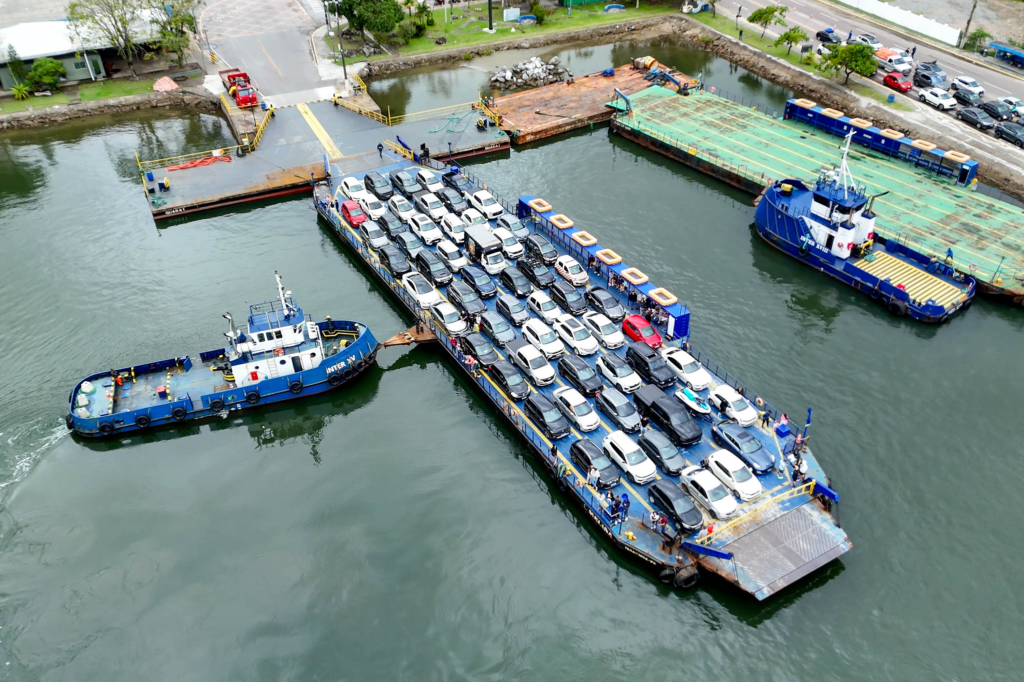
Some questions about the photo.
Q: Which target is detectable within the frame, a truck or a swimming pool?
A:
truck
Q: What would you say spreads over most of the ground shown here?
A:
water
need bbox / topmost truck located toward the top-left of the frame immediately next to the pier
[225,68,255,99]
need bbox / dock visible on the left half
[132,90,512,220]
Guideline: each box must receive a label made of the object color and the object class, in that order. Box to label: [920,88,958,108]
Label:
white vehicle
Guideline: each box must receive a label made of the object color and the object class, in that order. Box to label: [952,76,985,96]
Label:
white car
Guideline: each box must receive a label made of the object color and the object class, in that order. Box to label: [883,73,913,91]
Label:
red car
